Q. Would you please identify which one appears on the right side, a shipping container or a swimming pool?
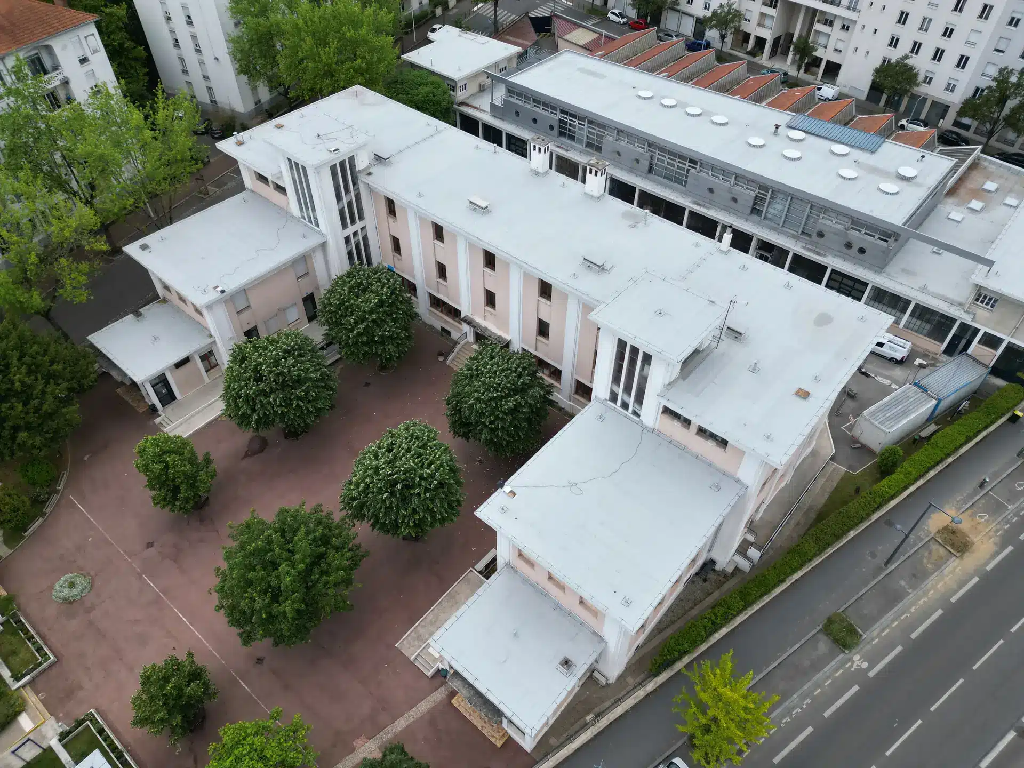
shipping container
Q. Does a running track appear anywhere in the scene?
No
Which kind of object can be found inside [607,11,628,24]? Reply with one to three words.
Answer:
vehicle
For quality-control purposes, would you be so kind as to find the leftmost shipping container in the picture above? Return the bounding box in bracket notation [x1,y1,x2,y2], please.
[852,382,936,452]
